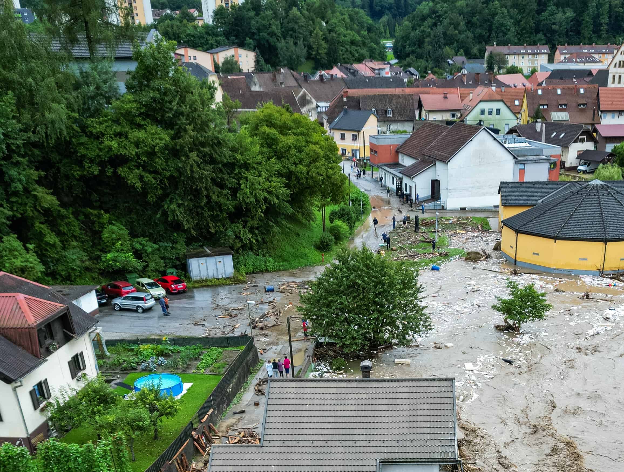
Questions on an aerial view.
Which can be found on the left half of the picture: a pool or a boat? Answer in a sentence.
Visible on the left half of the picture is a pool.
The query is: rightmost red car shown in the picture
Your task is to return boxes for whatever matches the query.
[157,275,187,296]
